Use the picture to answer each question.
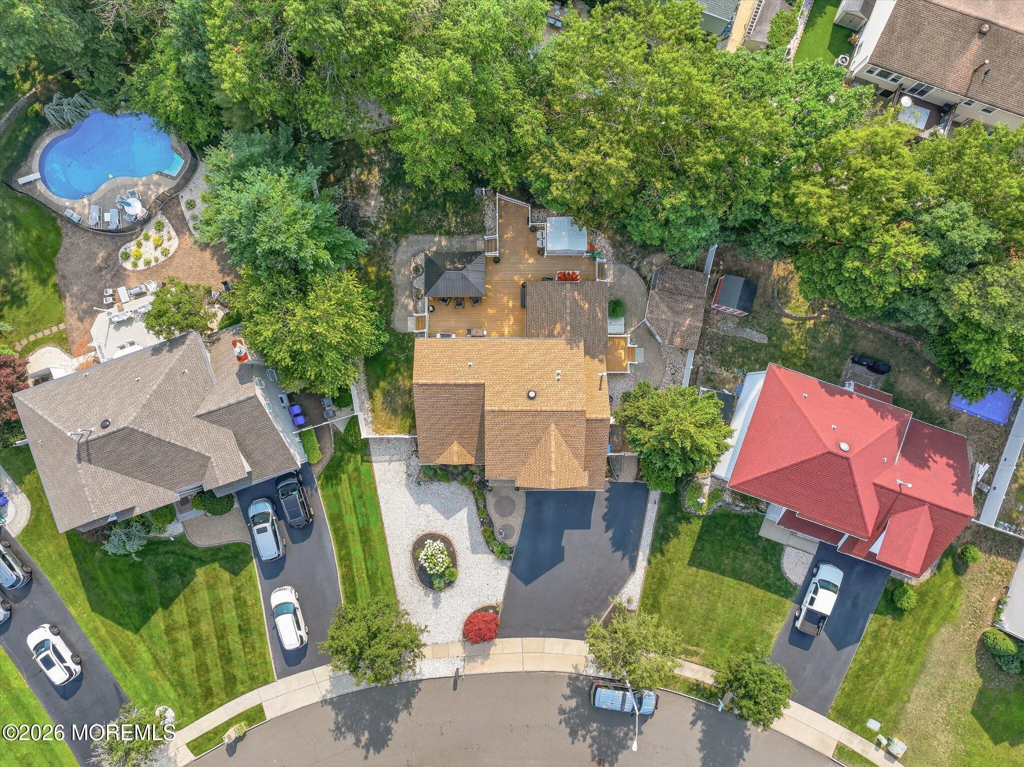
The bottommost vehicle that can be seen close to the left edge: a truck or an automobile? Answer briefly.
automobile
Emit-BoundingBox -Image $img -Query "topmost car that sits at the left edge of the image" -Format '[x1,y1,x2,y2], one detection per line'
[0,534,30,598]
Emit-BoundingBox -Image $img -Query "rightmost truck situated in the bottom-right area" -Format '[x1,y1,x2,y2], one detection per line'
[794,560,843,641]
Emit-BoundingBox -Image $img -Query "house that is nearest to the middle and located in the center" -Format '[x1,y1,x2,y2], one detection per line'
[413,270,612,491]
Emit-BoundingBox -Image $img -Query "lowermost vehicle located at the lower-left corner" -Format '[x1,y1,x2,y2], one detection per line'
[32,619,83,688]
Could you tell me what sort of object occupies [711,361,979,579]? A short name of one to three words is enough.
house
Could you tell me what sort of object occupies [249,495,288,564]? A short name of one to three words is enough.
car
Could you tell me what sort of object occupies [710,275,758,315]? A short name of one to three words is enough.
shed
